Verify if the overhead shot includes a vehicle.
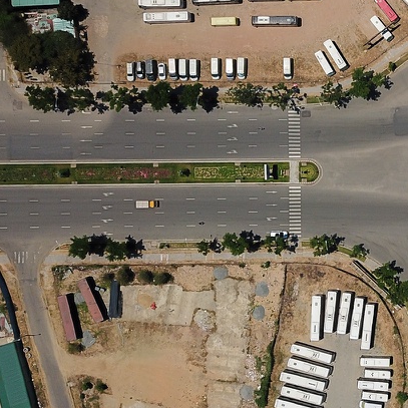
Yes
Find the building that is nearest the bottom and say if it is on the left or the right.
left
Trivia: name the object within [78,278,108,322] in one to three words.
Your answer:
shed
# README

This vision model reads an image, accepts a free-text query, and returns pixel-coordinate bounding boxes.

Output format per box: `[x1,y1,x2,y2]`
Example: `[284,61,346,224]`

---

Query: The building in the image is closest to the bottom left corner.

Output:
[0,340,39,408]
